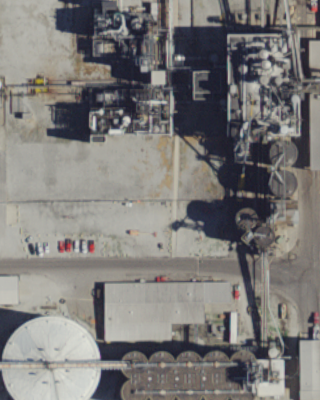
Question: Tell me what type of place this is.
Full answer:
It's an industrial area.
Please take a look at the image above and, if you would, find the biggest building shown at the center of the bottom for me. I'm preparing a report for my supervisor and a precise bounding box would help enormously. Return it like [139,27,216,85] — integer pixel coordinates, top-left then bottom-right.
[103,282,230,340]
